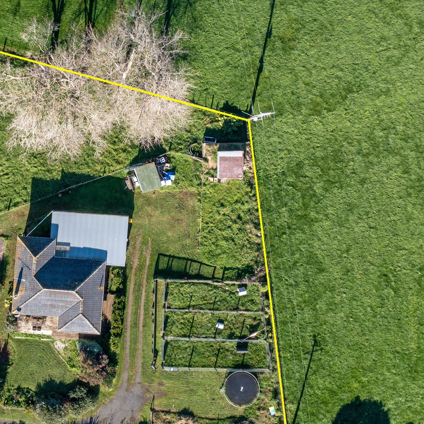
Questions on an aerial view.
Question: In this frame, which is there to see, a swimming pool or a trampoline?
trampoline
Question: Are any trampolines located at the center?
No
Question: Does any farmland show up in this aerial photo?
Yes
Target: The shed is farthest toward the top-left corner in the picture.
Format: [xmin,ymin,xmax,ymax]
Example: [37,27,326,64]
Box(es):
[133,162,162,193]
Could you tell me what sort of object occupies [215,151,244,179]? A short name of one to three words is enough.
shed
